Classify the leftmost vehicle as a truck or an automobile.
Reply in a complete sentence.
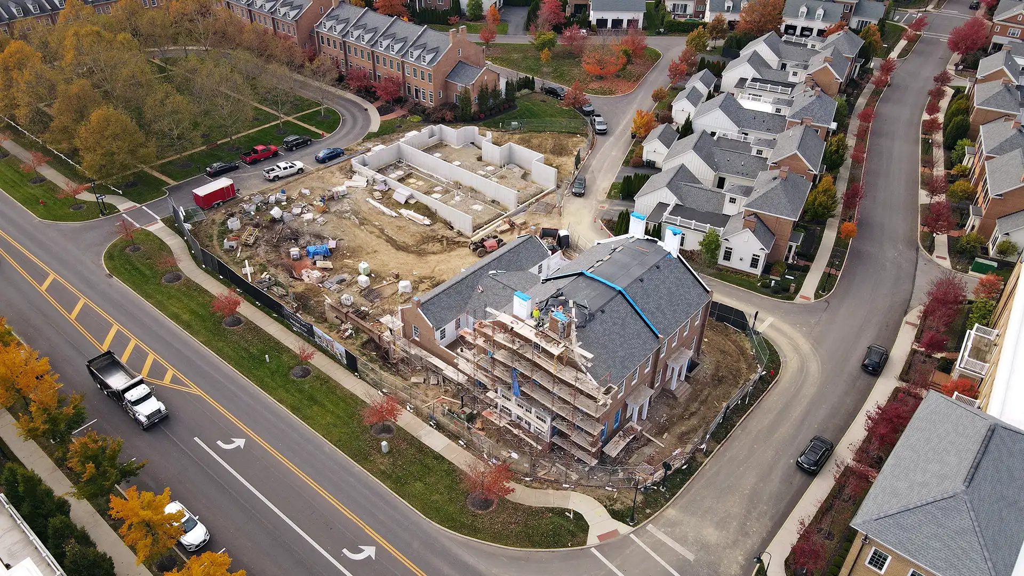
I'd identify the leftmost vehicle as a truck.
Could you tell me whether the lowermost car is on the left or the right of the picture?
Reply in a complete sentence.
The lowermost car is on the left side of the image.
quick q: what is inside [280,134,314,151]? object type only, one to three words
car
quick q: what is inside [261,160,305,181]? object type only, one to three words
truck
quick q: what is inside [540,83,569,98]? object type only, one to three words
vehicle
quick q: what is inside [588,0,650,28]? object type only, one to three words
house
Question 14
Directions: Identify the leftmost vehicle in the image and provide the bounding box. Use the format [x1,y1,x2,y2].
[82,349,167,429]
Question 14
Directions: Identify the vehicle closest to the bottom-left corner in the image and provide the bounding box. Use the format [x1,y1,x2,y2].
[157,491,208,546]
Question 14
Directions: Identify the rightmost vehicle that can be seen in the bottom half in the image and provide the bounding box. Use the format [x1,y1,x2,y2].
[862,341,895,376]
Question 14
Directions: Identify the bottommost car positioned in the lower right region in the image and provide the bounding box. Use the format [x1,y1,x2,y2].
[795,430,838,475]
